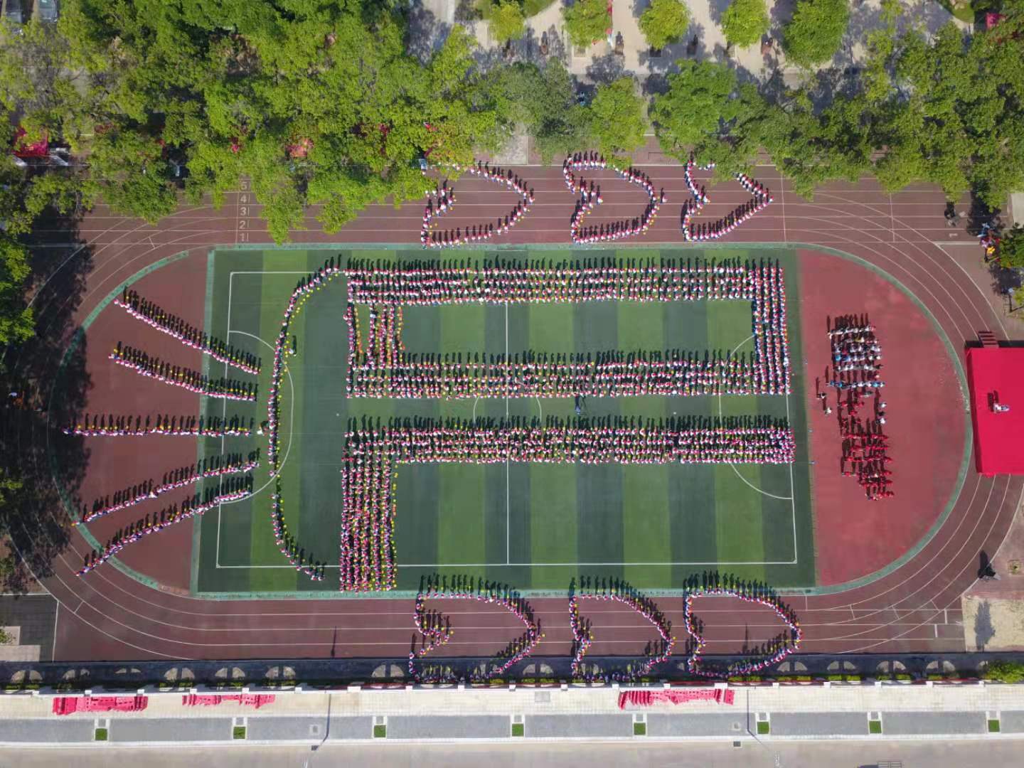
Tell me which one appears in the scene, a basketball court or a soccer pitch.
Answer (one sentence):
I can see a soccer pitch in this picture.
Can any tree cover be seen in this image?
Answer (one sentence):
Yes, there is tree cover in the image.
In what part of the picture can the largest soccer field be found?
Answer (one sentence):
The largest soccer field sits in the center section of the image.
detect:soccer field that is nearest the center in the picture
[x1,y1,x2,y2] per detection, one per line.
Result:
[199,248,817,593]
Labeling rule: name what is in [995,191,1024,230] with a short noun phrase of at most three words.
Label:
shed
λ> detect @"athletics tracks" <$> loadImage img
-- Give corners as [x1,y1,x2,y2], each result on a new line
[0,164,1024,661]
